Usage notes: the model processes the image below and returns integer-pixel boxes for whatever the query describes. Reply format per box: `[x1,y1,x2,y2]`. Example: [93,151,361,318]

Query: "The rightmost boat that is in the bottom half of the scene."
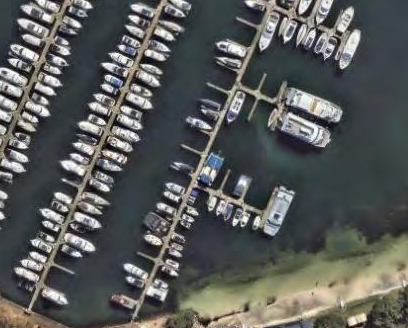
[265,186,295,235]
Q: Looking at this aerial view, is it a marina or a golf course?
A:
marina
